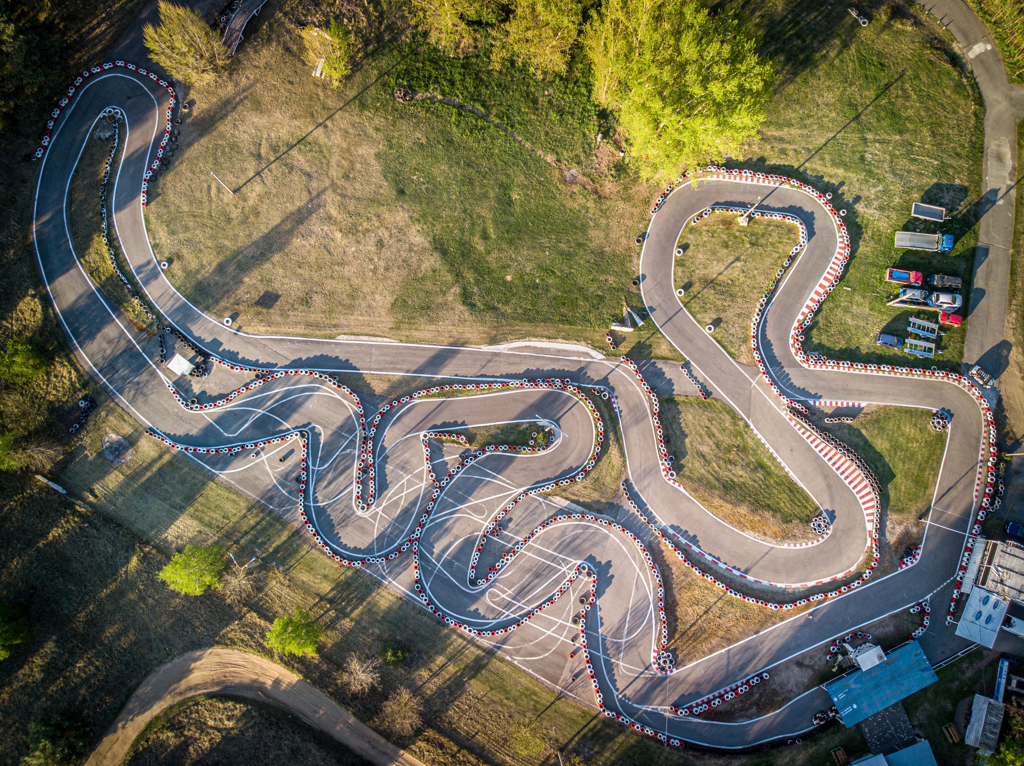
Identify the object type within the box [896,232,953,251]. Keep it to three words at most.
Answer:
vehicle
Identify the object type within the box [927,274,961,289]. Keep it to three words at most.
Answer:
car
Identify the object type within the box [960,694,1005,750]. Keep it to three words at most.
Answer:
shed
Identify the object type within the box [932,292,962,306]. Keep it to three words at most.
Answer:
car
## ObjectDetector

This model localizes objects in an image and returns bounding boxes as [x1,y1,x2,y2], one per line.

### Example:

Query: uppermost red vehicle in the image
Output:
[888,269,922,285]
